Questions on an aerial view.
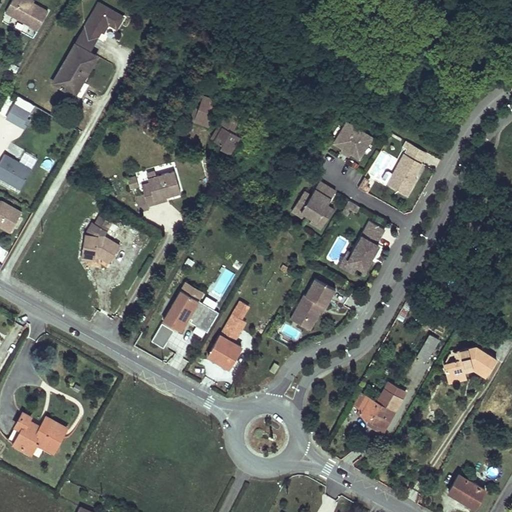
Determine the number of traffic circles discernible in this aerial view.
one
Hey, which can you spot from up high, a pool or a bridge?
pool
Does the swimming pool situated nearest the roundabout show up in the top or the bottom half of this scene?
bottom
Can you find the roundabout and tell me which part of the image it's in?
bottom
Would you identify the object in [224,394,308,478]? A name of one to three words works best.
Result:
roundabout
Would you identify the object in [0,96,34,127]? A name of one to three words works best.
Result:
building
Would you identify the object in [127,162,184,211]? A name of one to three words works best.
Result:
house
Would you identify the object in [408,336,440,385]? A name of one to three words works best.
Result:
shed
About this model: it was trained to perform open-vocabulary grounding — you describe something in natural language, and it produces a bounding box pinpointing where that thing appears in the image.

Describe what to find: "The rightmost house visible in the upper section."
[368,141,440,198]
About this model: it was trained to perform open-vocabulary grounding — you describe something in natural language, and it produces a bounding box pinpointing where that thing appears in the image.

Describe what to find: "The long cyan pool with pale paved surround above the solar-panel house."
[208,264,236,302]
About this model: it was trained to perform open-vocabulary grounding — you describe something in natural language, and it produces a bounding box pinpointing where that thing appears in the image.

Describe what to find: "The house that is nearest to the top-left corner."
[2,0,50,38]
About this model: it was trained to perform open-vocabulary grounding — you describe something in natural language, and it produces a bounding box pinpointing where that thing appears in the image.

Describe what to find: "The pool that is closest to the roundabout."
[278,323,302,344]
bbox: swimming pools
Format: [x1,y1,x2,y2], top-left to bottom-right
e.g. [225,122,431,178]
[278,323,302,344]
[326,238,348,264]
[40,157,55,172]
[488,467,499,478]
[208,264,236,302]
